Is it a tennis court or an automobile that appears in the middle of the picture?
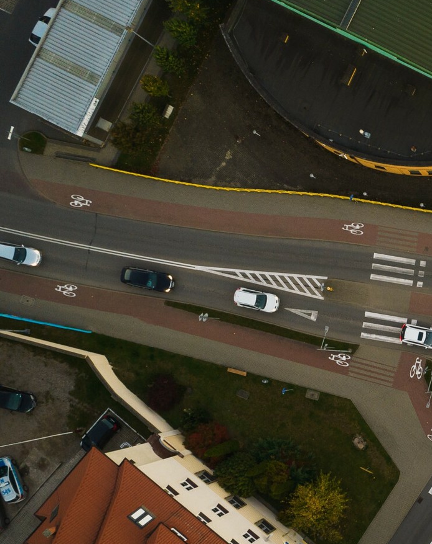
automobile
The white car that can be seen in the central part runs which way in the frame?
from left to right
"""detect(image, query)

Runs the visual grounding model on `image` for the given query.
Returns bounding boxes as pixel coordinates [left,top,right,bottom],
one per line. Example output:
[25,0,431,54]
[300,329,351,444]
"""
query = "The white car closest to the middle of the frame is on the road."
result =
[232,289,282,312]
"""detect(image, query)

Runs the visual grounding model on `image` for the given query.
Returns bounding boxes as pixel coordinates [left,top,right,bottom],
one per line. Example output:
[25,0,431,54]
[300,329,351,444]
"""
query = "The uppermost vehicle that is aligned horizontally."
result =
[0,243,43,267]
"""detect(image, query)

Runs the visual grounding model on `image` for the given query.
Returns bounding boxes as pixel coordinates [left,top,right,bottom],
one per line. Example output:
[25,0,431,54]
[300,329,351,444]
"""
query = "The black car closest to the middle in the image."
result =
[121,268,177,293]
